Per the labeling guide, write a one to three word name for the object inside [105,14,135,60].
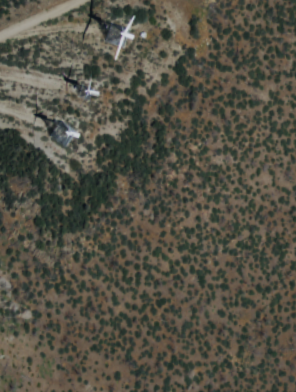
wind turbine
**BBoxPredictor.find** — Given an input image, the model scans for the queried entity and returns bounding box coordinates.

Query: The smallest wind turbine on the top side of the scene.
[76,76,98,116]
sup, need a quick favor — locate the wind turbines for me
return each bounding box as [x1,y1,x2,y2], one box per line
[48,120,78,158]
[76,76,98,116]
[105,14,135,60]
